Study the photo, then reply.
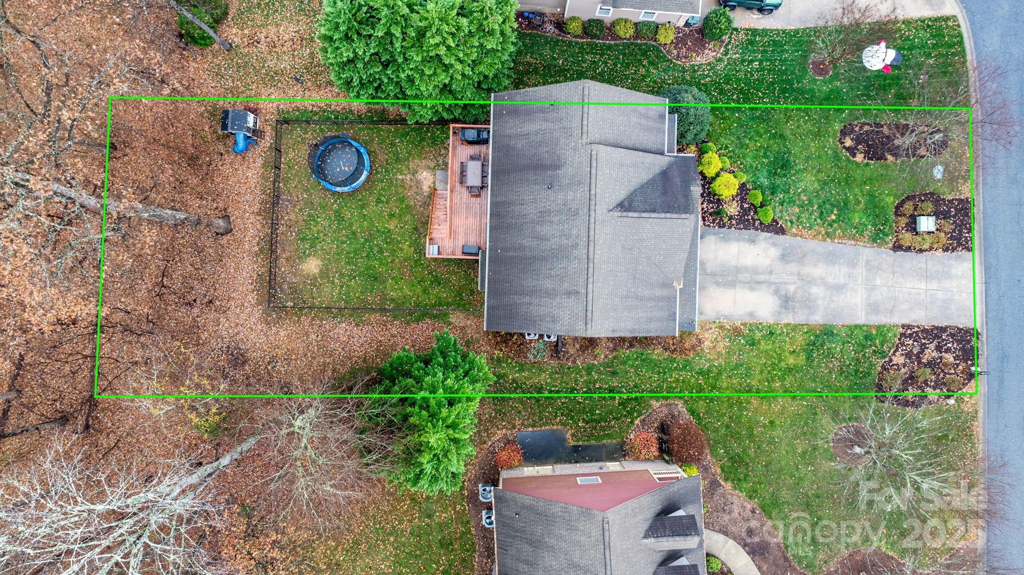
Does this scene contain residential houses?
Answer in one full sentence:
Yes, there is a residential house in the image.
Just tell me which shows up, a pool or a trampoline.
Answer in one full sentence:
I can see a trampoline in this picture.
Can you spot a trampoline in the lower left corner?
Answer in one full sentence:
No, I can find no trampoline in the lower left corner.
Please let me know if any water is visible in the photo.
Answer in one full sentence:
No, the scene doesn't show any water.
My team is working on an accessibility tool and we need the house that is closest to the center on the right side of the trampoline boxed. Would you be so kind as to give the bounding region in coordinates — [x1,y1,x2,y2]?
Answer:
[477,80,701,337]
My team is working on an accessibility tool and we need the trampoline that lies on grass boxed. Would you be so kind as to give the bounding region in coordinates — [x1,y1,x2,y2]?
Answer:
[308,131,370,196]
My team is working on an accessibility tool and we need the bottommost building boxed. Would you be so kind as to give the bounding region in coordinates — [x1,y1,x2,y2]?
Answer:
[492,461,707,575]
